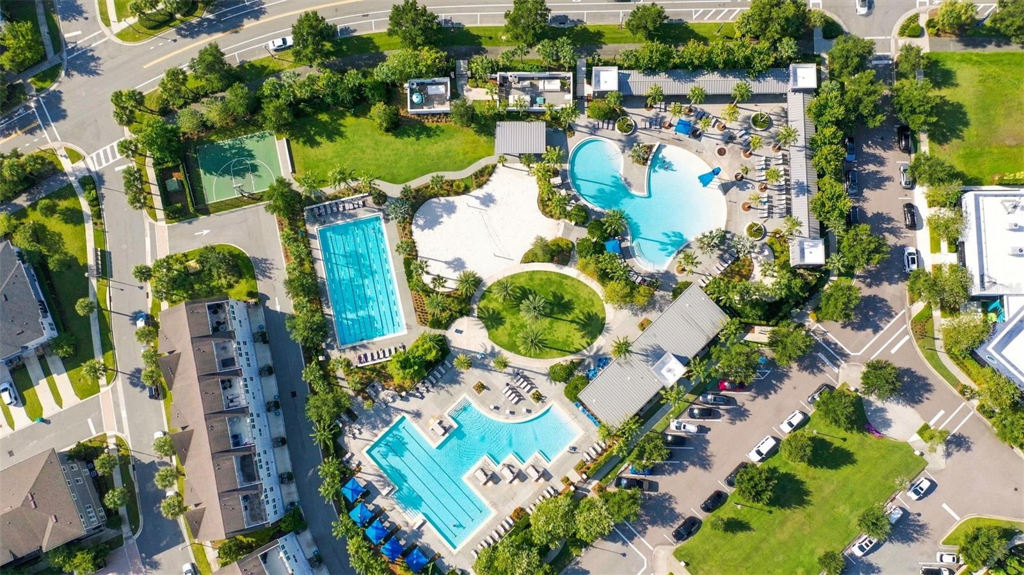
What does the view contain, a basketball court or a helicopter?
basketball court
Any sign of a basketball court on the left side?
Yes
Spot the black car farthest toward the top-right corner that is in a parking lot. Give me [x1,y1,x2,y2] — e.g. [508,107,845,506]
[896,126,911,151]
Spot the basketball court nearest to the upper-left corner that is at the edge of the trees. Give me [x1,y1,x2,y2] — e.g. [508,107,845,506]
[196,131,285,204]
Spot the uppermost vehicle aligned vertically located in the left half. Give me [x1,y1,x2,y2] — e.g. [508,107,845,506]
[134,305,149,335]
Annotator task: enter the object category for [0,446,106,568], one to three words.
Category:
house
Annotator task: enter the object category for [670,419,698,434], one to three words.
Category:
car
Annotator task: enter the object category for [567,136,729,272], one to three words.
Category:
swimming pool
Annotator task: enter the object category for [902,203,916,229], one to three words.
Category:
car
